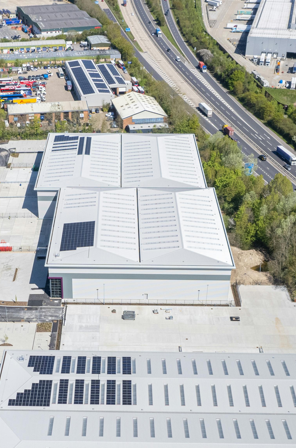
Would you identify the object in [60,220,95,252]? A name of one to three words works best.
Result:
solar array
